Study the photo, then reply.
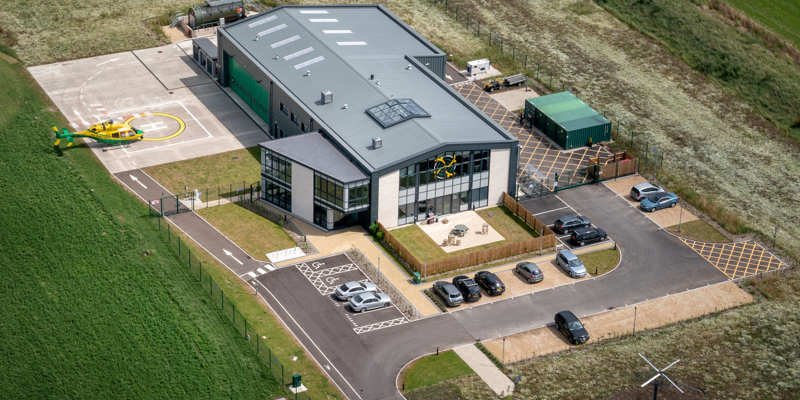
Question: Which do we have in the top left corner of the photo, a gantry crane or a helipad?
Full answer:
What appears in the top left corner of the photo is a helipad.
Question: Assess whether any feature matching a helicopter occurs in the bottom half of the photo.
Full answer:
No, the scene shows no helicopter in the bottom half of the photo.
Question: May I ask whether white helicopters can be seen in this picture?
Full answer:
No, the scene contains no white helicopter.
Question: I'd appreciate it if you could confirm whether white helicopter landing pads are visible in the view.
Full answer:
Yes, looking at the shot, I can spot a white helicopter landing pad.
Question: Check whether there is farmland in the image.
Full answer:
Yes, farmland shows up in the scene.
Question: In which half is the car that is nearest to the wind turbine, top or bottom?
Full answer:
The car that is nearest to the wind turbine is in the bottom half of the image.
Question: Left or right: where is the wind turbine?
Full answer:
The wind turbine appears in the right half of the scene.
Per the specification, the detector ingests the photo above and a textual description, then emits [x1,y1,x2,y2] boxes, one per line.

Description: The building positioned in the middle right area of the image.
[586,148,643,179]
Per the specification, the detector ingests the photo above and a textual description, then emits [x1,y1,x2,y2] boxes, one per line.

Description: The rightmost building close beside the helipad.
[216,4,521,231]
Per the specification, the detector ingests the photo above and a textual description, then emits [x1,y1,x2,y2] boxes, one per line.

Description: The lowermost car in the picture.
[554,309,592,345]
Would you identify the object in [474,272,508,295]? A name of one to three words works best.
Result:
car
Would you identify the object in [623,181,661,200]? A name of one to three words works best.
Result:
car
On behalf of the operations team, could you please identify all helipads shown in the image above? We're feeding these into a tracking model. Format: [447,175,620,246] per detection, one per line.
[27,41,279,173]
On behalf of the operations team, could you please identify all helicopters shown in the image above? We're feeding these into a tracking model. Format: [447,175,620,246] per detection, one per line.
[48,108,153,151]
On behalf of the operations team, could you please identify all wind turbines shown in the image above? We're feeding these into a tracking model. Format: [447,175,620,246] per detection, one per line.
[639,353,680,400]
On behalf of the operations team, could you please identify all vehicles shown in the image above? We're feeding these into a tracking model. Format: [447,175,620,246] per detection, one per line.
[553,247,588,276]
[452,277,485,299]
[514,261,546,284]
[550,213,593,234]
[554,309,592,345]
[639,191,678,210]
[432,282,465,305]
[563,222,607,245]
[482,70,508,91]
[347,289,394,311]
[623,181,661,200]
[474,272,508,295]
[334,278,379,300]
